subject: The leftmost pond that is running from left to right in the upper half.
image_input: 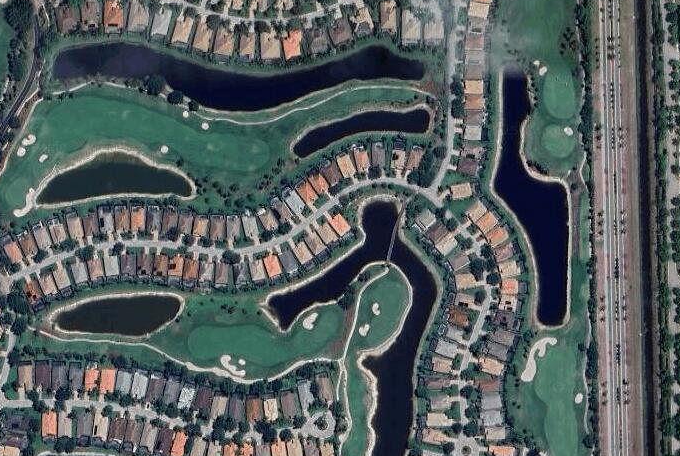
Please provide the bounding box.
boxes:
[37,150,191,204]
